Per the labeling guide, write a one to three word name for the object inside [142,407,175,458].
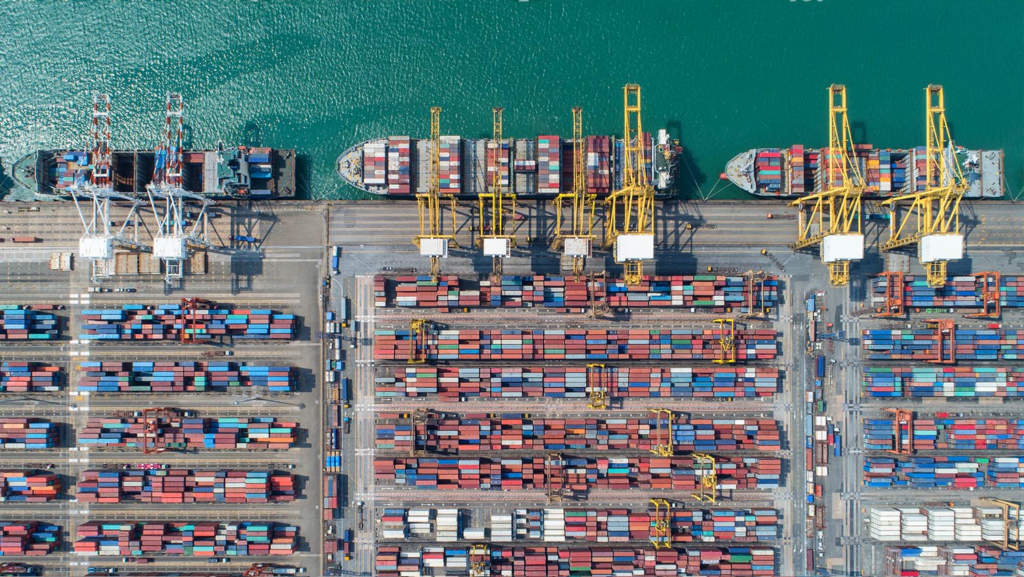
container crane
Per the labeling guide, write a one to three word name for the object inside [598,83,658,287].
container crane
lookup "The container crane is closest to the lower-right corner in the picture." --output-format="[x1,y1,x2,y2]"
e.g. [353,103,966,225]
[982,497,1021,552]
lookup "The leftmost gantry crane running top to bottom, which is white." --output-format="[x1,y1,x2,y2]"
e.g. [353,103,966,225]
[67,92,155,282]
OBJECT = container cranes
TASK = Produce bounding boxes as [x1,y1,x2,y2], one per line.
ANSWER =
[869,270,903,318]
[67,92,155,282]
[142,407,175,458]
[709,318,736,364]
[878,408,912,458]
[544,451,565,503]
[409,408,432,458]
[649,408,673,458]
[690,451,716,503]
[598,83,658,287]
[585,362,607,410]
[982,497,1021,552]
[585,270,606,318]
[962,270,1000,318]
[877,83,974,287]
[408,318,430,364]
[180,297,211,345]
[415,106,462,280]
[737,270,765,318]
[918,318,955,365]
[787,83,871,287]
[145,92,223,282]
[476,106,520,280]
[551,106,598,280]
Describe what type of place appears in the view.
port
